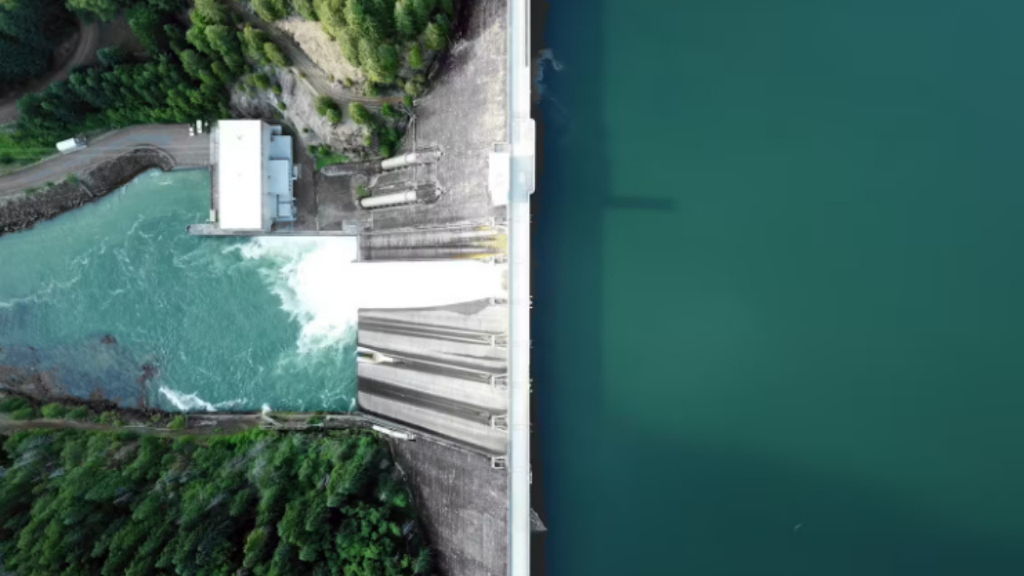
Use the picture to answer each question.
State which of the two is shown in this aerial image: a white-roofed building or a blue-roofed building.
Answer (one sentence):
Visible in the photo is a white-roofed building.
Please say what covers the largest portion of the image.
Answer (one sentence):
For the most part, this view shows water.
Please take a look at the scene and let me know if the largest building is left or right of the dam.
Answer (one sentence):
The largest building can be seen on the left of the dam.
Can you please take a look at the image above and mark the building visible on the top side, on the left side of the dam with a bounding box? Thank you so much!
[209,120,300,234]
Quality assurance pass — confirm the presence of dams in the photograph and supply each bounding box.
[355,0,549,576]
